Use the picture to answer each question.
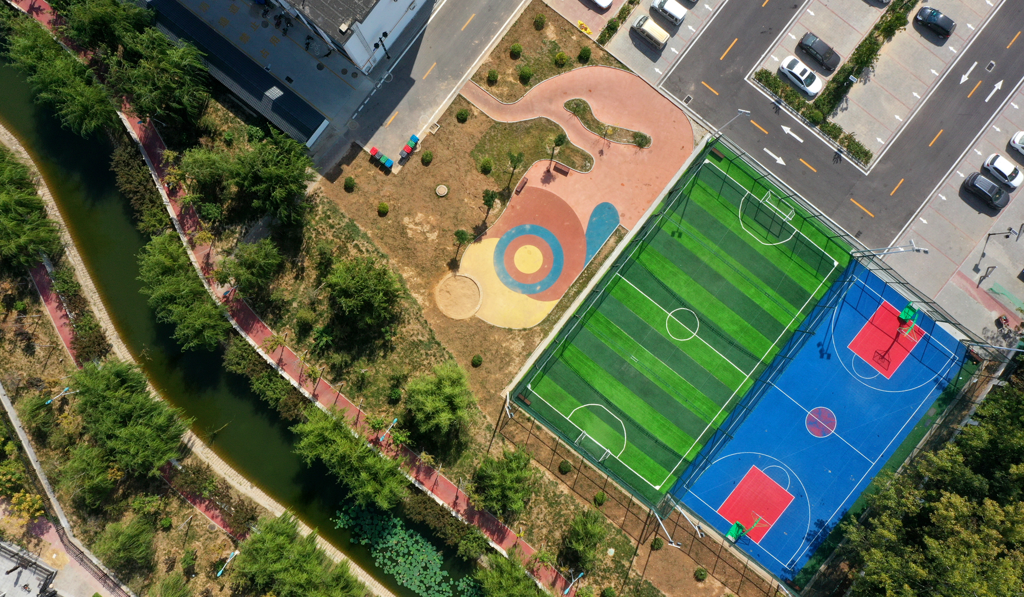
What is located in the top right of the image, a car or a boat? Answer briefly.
car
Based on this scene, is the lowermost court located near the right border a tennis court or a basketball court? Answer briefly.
basketball court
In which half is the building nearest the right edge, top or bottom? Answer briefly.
top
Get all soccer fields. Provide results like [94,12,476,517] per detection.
[510,138,856,507]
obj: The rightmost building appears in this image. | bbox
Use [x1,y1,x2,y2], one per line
[263,0,427,80]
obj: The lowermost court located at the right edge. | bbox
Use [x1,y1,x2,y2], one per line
[661,259,980,593]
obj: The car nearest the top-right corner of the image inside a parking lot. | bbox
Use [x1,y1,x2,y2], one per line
[912,3,959,43]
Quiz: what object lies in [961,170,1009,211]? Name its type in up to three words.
car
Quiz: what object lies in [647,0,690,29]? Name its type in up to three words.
car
